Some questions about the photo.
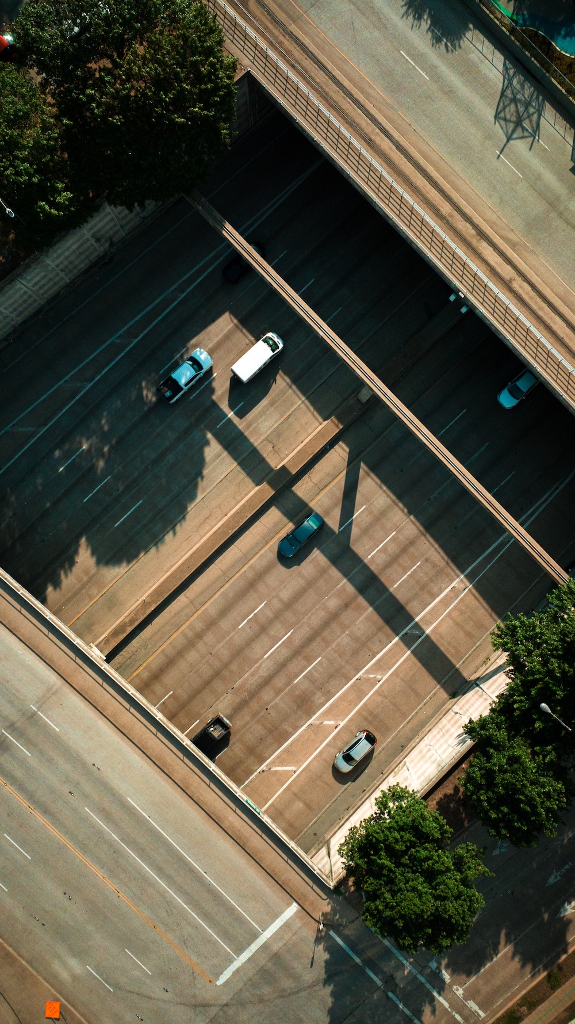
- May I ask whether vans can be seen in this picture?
Yes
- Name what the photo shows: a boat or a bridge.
bridge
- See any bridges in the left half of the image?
Yes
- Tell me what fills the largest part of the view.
paved ground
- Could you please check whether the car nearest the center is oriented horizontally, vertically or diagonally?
diagonally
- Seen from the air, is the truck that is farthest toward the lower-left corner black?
Yes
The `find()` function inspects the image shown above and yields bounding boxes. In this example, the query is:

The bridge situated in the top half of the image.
[245,67,575,416]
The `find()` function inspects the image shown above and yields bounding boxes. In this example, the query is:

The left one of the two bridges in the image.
[0,567,341,905]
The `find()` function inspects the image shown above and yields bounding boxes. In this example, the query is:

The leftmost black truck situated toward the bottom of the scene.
[186,711,234,759]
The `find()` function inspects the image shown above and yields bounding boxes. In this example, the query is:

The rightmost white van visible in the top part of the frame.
[231,335,283,385]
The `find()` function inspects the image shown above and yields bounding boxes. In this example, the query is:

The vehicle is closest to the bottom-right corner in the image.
[337,730,378,772]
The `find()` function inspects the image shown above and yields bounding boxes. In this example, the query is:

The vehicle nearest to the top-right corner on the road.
[499,367,540,408]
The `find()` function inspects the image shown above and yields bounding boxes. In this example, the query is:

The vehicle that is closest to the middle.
[281,510,326,557]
